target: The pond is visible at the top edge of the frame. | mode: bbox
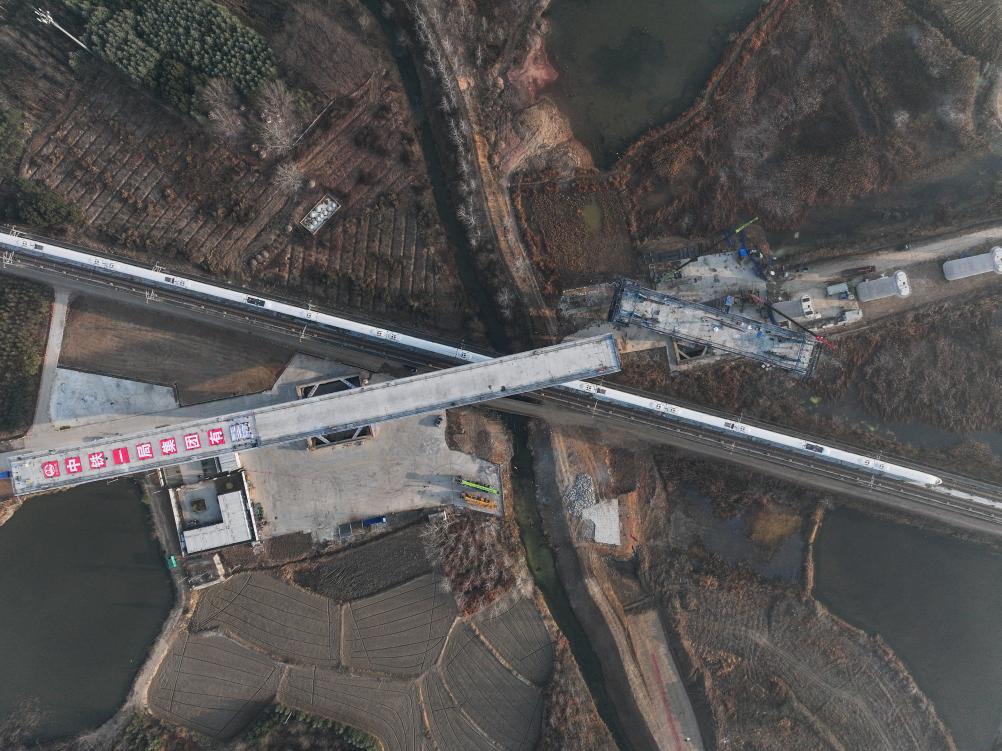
[540,0,769,171]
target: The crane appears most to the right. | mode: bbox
[745,289,835,350]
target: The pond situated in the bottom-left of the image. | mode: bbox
[0,469,176,740]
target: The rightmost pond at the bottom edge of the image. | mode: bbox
[812,497,1002,751]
